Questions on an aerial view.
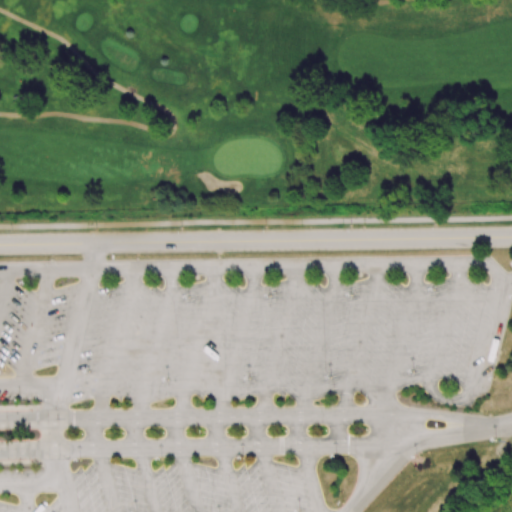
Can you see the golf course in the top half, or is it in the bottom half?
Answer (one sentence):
The top half of the photo is where the golf course is.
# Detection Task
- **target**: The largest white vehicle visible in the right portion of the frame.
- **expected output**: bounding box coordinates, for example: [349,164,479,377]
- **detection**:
[487,328,502,362]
